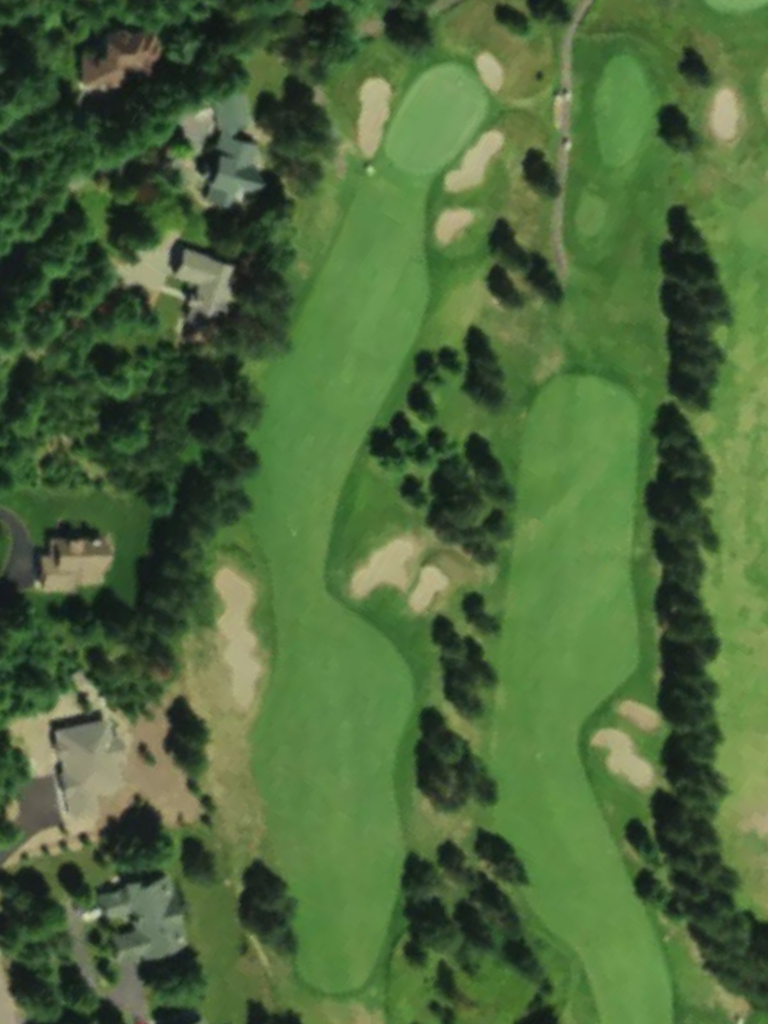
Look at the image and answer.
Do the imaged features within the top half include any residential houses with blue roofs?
No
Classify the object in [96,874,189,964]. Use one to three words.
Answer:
house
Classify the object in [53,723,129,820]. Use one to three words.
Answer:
house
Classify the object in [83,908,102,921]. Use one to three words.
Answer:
vehicle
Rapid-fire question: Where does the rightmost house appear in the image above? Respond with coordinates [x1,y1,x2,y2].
[205,93,268,206]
